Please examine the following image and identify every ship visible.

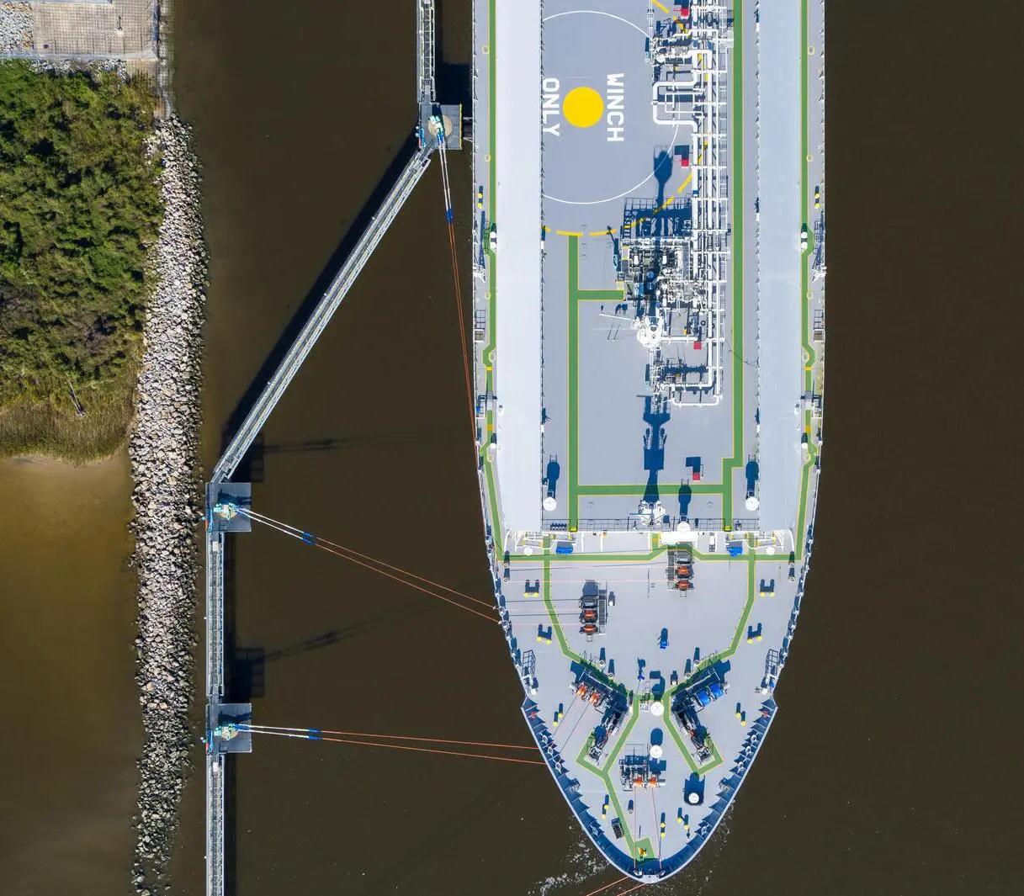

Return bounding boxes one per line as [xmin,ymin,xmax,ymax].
[474,0,825,884]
